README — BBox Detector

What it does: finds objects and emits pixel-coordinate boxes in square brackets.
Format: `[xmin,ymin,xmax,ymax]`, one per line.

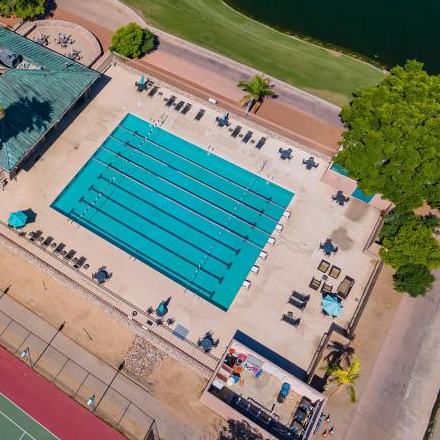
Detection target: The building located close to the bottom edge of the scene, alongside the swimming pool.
[201,341,327,440]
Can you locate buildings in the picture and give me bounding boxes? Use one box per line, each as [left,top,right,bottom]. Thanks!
[0,26,100,182]
[201,341,327,440]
